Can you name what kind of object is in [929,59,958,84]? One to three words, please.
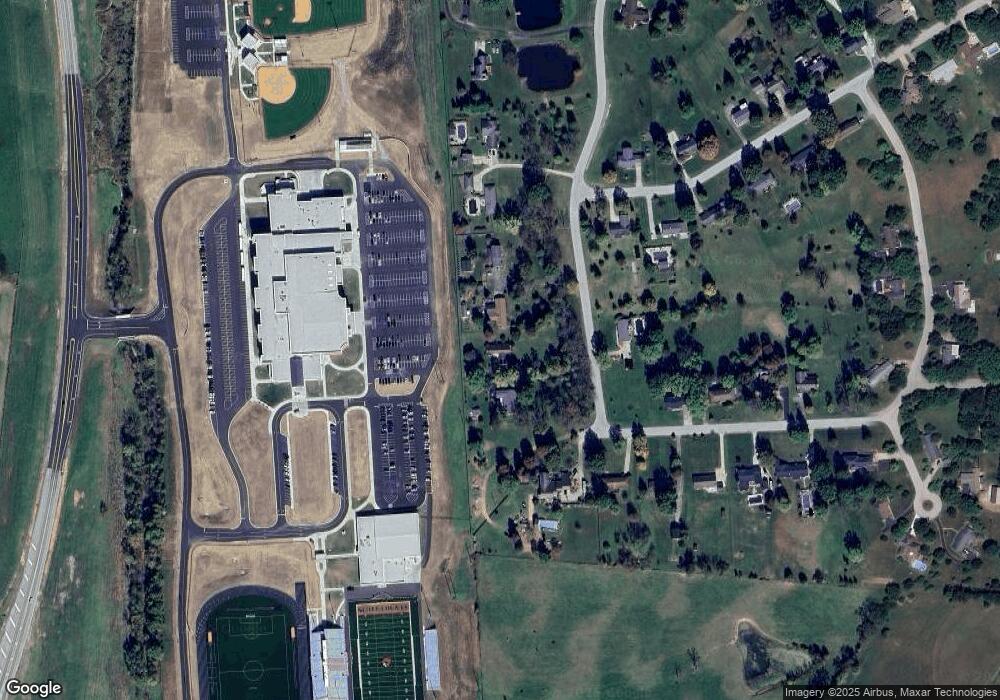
barn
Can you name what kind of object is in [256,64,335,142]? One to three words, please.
baseball field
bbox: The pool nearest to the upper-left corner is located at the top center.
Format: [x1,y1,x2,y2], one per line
[455,121,468,142]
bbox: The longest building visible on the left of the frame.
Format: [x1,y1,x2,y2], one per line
[252,189,354,388]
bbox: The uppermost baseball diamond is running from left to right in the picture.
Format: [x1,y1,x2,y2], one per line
[249,0,370,40]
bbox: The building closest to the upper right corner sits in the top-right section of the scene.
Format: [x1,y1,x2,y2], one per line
[959,40,984,68]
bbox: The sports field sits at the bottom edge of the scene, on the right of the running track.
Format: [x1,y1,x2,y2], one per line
[344,583,427,700]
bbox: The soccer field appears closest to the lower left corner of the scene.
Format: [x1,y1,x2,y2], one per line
[211,595,296,700]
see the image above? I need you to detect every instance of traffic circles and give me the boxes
[914,491,942,519]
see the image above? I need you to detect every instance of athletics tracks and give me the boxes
[196,582,312,700]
